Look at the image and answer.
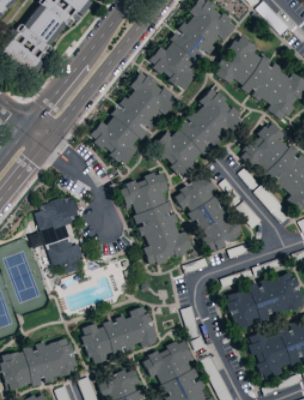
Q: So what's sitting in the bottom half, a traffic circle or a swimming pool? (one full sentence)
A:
What appears in the bottom half is a swimming pool.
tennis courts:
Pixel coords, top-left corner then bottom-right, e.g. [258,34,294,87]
[0,240,48,314]
[0,273,20,340]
